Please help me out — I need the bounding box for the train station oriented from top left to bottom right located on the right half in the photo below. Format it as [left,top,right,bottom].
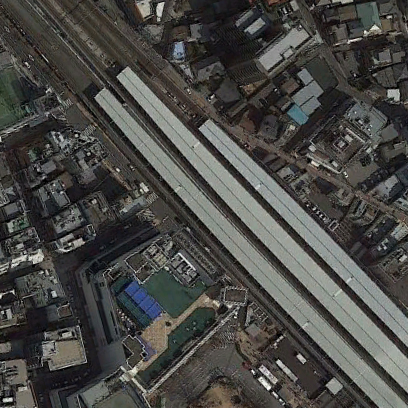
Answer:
[91,67,408,408]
